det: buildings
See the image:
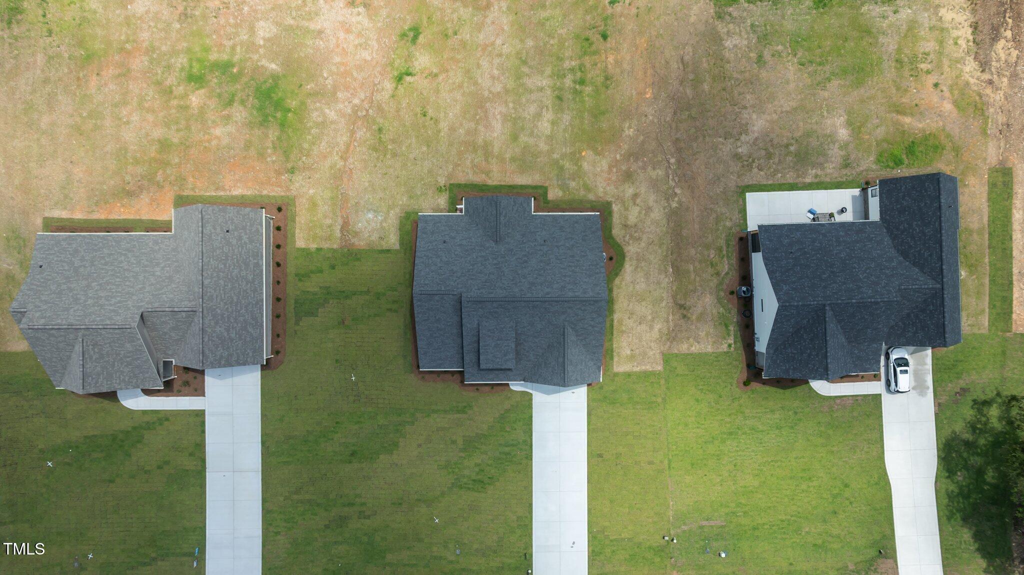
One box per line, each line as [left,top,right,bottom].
[12,204,274,396]
[413,195,607,388]
[742,172,964,382]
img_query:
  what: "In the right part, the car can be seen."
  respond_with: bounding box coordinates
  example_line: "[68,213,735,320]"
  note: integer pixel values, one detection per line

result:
[886,347,913,394]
